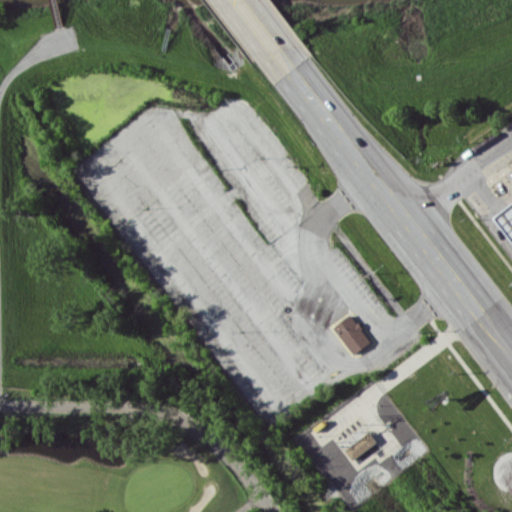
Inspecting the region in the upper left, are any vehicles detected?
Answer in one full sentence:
No, I see no vehicle in the upper left.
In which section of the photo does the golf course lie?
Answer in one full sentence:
The golf course sits in the bottom left section of the image.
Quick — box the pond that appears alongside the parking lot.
[60,72,172,150]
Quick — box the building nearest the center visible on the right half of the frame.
[336,318,370,353]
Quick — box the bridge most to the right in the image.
[205,0,310,93]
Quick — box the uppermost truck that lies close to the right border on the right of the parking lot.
[460,136,500,160]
